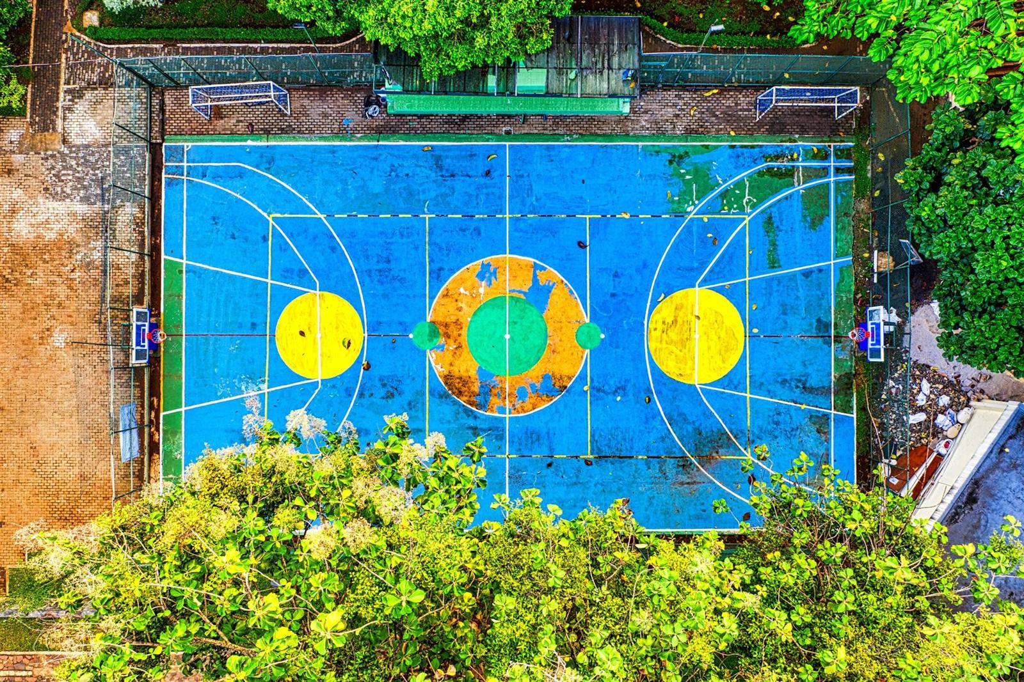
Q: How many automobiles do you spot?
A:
none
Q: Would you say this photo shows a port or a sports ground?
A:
sports ground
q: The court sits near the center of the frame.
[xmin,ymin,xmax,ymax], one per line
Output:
[159,133,857,534]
